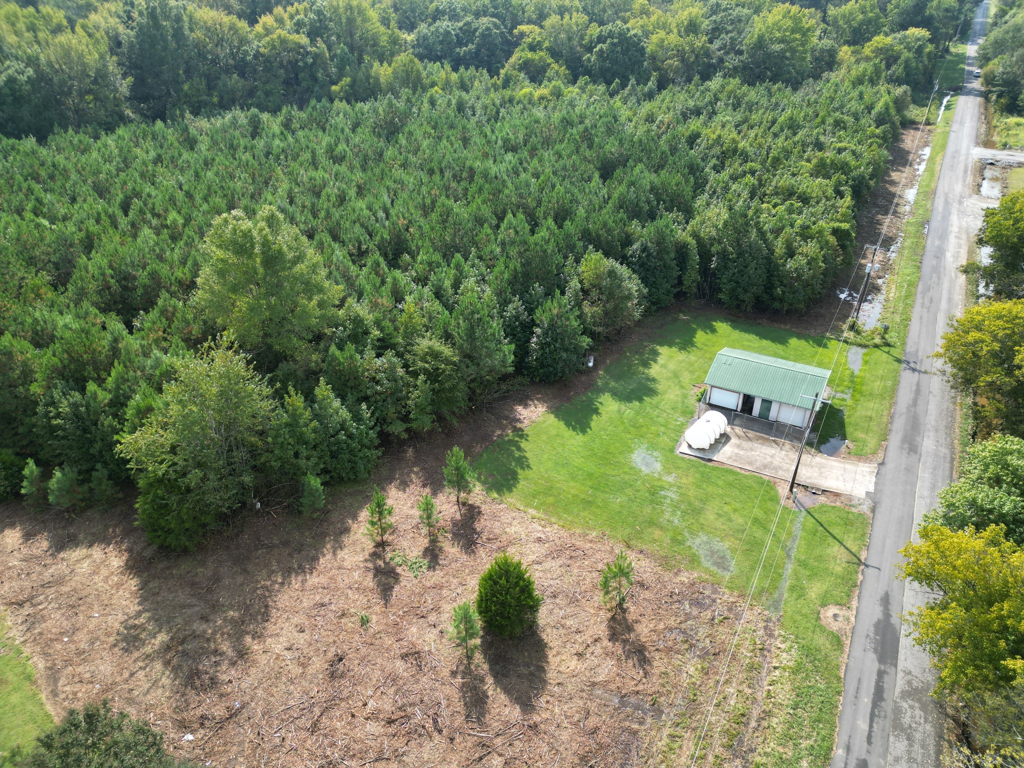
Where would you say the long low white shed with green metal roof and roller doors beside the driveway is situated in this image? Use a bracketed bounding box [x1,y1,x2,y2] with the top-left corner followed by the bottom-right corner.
[704,347,832,428]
